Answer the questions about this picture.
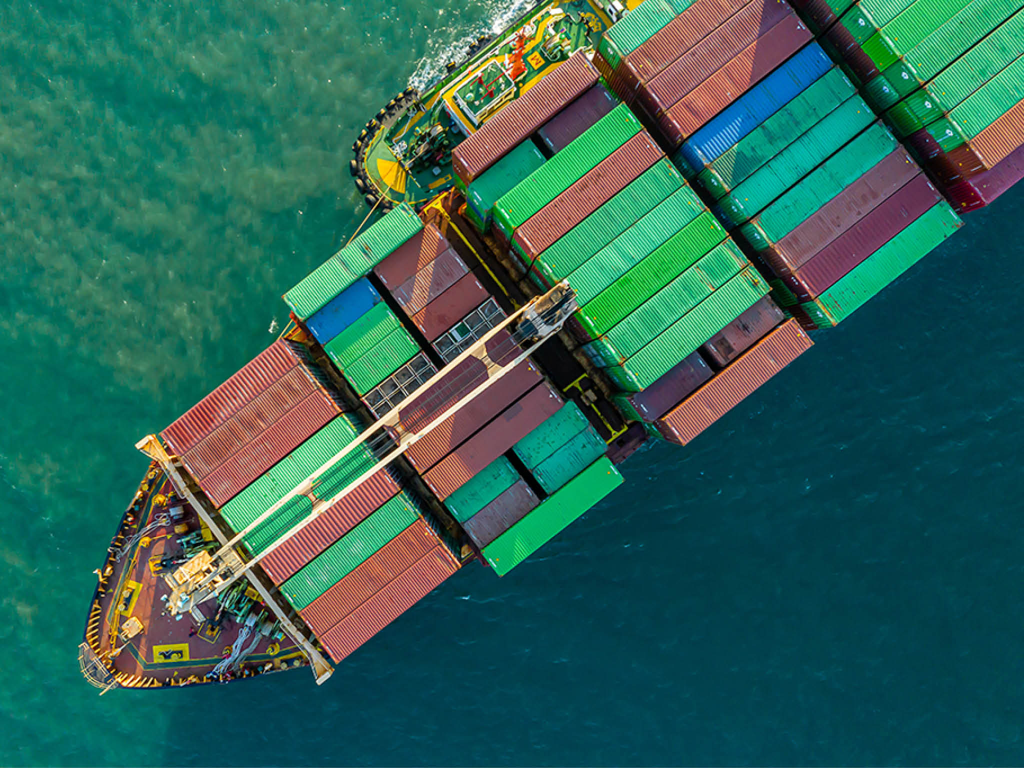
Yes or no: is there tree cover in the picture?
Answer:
No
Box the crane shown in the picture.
[156,277,580,627]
